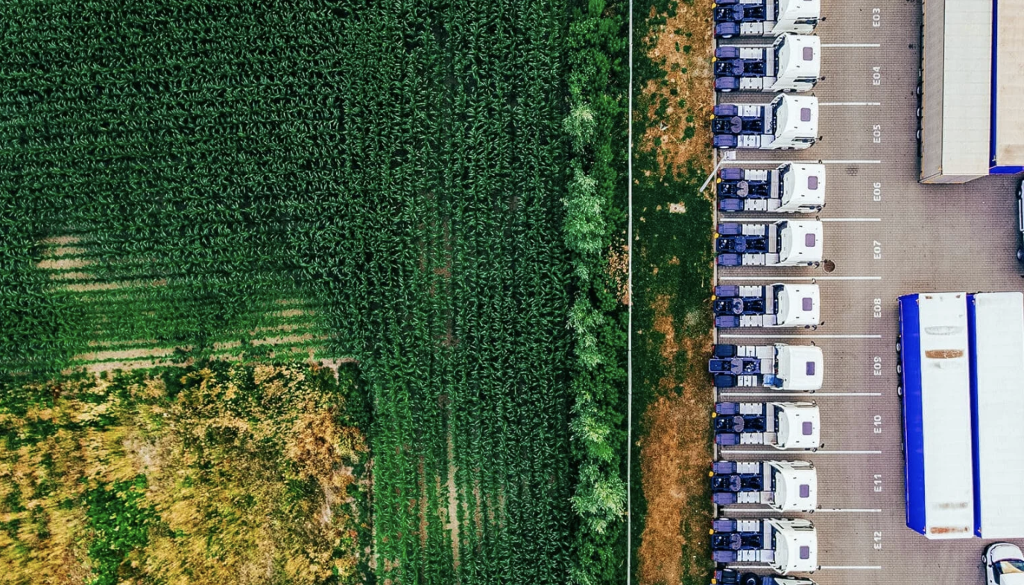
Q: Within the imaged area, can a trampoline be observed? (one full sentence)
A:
No, no trampoline is visible in the view.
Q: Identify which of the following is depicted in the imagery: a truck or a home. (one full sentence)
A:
Of the two, only a truck appears.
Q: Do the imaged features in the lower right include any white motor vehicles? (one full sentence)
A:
Yes, in the lower right there is a white motor vehicle.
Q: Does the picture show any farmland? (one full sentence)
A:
Yes, some farmland is visible.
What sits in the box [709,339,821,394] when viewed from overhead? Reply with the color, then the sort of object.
white truck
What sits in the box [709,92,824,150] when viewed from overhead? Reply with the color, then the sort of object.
white truck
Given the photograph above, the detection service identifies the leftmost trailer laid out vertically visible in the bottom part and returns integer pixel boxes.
[894,291,974,542]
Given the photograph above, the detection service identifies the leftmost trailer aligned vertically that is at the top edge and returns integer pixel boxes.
[915,0,993,184]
